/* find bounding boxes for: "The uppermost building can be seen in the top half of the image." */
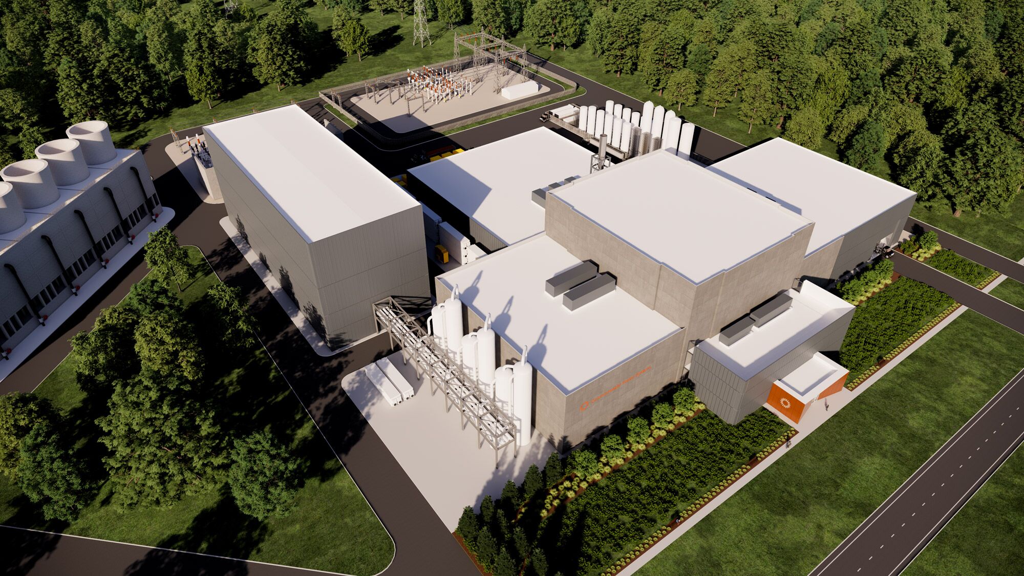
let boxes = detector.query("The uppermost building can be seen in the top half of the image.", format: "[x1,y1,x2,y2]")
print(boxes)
[502,81,539,99]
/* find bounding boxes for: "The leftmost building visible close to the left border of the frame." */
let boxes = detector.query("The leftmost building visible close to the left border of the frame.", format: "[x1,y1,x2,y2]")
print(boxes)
[0,122,163,358]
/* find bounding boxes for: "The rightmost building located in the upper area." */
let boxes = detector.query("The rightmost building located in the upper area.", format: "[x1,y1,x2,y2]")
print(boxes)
[703,137,918,292]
